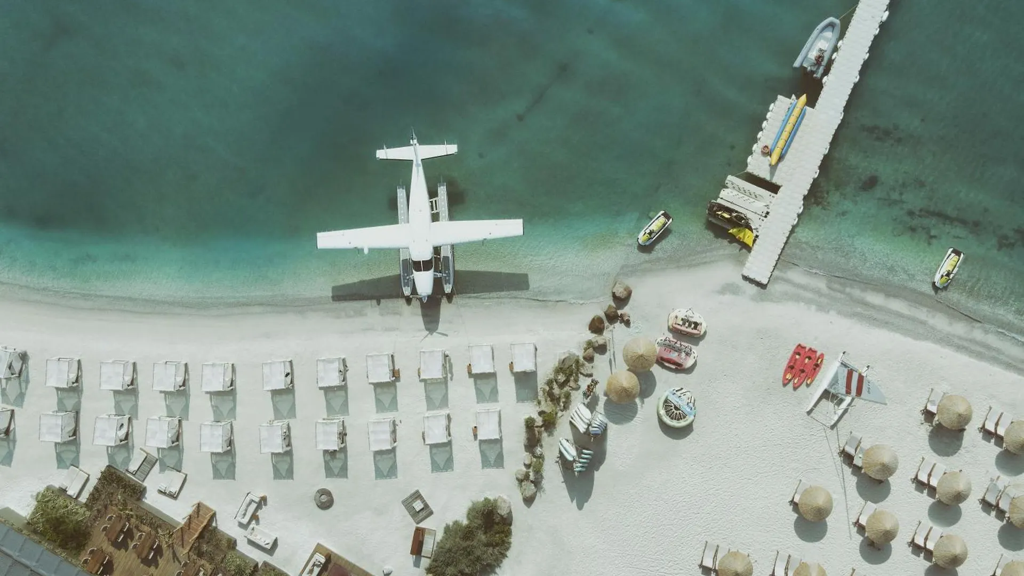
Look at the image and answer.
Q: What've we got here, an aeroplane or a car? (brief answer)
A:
aeroplane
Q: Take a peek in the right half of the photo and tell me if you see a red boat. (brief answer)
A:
Yes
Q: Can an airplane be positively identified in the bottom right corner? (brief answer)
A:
No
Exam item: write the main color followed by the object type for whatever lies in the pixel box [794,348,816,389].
red boat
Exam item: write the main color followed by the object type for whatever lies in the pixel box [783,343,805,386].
red boat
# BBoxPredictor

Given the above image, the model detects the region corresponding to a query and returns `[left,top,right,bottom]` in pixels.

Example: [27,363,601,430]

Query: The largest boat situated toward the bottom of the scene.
[807,350,888,427]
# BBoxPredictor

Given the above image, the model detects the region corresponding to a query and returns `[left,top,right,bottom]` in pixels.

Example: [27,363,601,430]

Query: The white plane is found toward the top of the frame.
[315,129,522,303]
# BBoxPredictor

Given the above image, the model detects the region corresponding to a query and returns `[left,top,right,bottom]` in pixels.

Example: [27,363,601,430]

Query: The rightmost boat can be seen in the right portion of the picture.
[935,248,962,289]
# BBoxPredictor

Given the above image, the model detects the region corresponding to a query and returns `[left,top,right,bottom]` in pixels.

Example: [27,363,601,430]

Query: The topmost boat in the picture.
[792,15,839,80]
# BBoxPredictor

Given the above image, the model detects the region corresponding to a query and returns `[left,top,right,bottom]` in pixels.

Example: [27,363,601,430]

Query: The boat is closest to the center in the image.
[641,209,673,245]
